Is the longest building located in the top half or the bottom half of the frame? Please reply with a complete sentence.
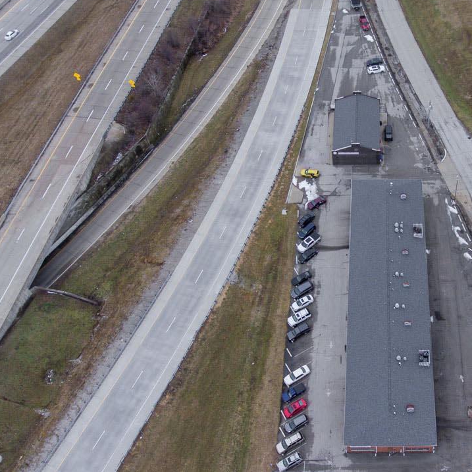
The longest building sits in the bottom half of the picture.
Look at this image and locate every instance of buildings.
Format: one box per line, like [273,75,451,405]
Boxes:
[343,177,437,452]
[332,94,382,165]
